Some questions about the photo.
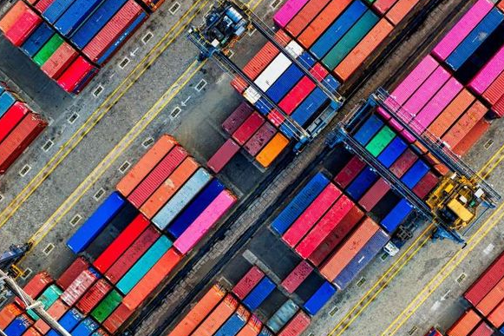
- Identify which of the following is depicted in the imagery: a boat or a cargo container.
cargo container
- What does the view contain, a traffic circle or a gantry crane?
gantry crane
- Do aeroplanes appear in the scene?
No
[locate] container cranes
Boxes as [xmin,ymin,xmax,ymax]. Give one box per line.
[0,236,79,336]
[185,0,347,152]
[334,89,502,246]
